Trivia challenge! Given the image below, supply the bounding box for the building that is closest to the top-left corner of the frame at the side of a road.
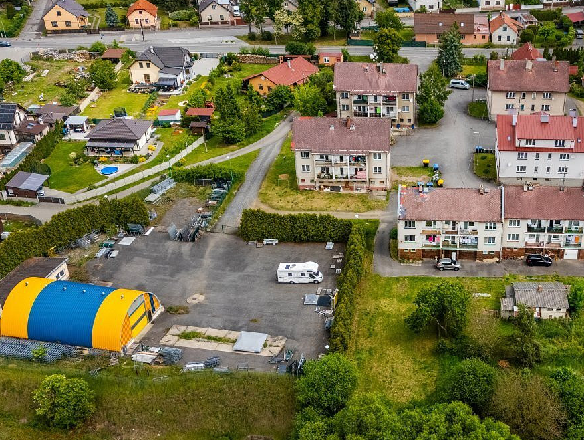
[40,0,89,30]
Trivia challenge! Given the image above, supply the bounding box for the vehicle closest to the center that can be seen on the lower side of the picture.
[275,264,323,287]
